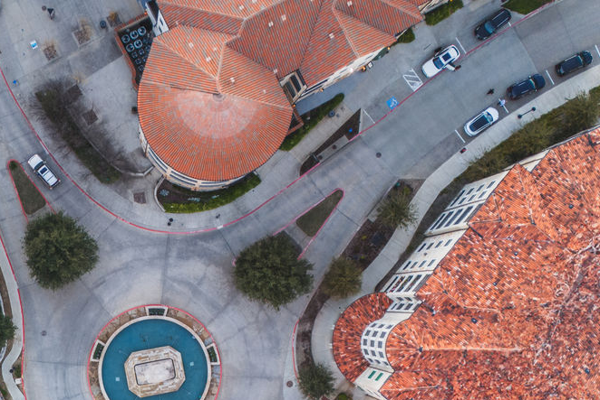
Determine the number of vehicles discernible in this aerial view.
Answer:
6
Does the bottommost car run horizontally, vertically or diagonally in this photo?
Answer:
diagonally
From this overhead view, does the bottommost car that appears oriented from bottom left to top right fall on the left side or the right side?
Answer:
right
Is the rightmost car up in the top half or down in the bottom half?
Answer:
top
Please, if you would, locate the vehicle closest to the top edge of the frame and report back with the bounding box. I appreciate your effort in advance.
[476,4,514,36]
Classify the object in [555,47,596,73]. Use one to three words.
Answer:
car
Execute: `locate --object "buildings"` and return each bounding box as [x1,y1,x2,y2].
[335,124,600,400]
[137,0,450,189]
